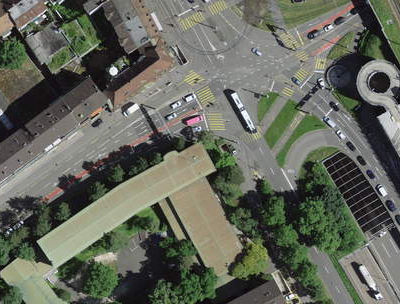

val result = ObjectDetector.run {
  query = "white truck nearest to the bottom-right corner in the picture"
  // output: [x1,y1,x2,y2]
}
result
[359,266,382,299]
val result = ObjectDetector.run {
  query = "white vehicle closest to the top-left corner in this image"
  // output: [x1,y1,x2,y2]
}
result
[122,104,138,116]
